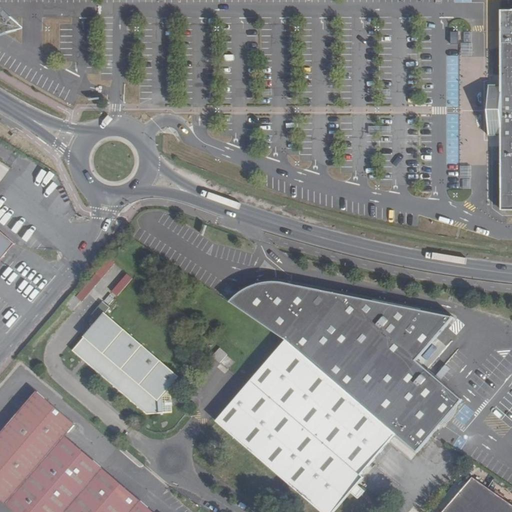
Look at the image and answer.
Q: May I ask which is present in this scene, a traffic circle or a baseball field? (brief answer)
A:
traffic circle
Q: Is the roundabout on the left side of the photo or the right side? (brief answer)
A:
left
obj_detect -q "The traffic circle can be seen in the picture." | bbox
[90,136,138,186]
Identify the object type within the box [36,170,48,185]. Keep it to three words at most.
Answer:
vehicle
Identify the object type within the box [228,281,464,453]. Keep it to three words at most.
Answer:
building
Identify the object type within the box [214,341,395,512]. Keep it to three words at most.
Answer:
warehouse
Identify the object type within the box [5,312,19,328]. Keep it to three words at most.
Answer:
vehicle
